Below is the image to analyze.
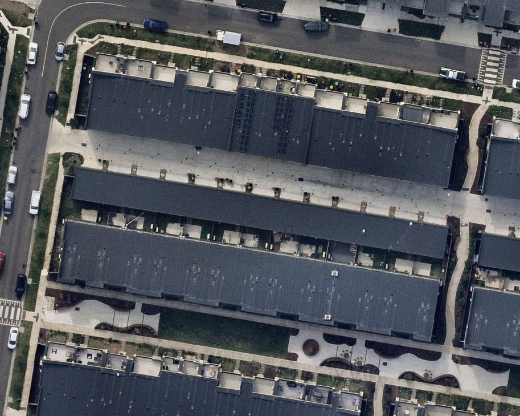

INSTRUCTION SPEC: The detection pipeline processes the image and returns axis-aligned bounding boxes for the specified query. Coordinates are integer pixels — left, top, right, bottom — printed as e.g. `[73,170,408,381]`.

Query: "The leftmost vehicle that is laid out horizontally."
[142,18,169,31]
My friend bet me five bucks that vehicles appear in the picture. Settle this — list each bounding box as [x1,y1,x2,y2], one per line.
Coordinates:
[54,42,65,62]
[303,20,329,33]
[255,13,279,25]
[14,274,26,295]
[6,166,17,186]
[29,190,40,215]
[142,18,169,31]
[439,68,467,81]
[2,191,14,216]
[45,90,57,114]
[215,31,241,46]
[27,42,38,65]
[17,94,31,120]
[511,79,520,90]
[6,326,18,350]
